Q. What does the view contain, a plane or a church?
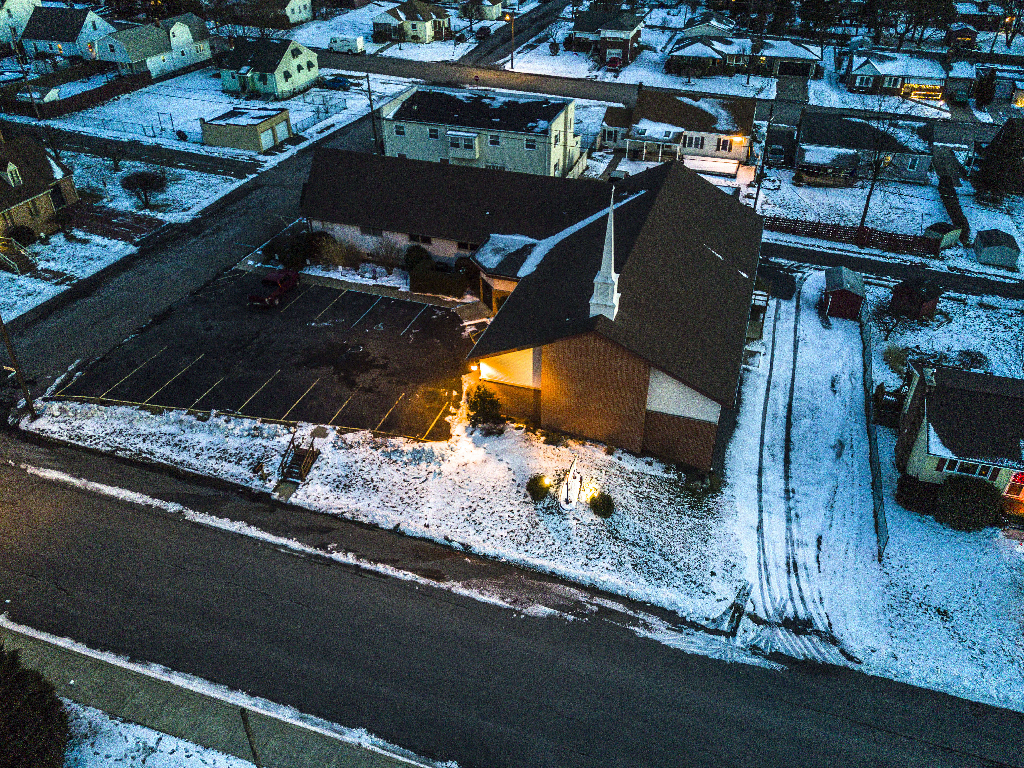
church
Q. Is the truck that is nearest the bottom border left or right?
left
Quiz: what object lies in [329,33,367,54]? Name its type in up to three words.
vehicle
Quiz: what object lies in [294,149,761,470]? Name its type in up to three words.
church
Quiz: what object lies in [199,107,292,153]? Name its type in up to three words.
building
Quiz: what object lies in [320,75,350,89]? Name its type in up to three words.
car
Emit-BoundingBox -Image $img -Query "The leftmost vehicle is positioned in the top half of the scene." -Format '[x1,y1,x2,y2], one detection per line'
[251,262,311,303]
